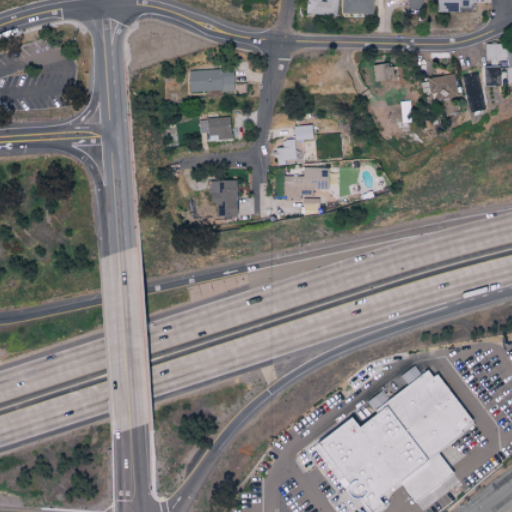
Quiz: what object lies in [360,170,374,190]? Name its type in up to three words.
swimming pool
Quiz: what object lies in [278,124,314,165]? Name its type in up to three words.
house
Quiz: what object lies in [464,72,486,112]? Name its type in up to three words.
building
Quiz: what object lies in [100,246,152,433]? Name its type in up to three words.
overpass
